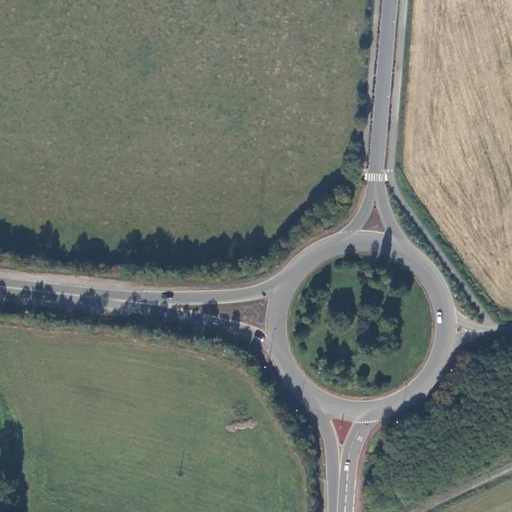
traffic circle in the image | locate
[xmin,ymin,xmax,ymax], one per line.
[266,230,456,422]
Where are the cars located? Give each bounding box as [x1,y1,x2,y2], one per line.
[344,460,350,472]
[162,293,174,299]
[436,312,442,324]
[254,331,266,340]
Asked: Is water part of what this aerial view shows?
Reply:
No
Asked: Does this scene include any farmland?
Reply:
Yes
